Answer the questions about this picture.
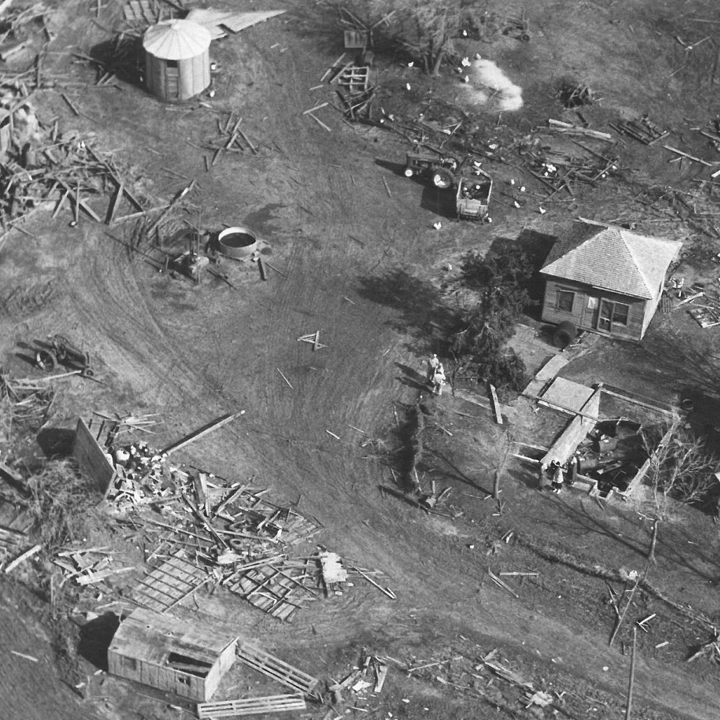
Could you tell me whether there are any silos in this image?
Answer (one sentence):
Yes, I can see a silo in this picture.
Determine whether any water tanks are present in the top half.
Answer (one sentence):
Yes, there is a water tank in the top half.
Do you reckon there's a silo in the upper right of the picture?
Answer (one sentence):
No, in the upper right of the picture there is no silo.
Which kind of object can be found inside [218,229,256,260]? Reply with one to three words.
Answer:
water tank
